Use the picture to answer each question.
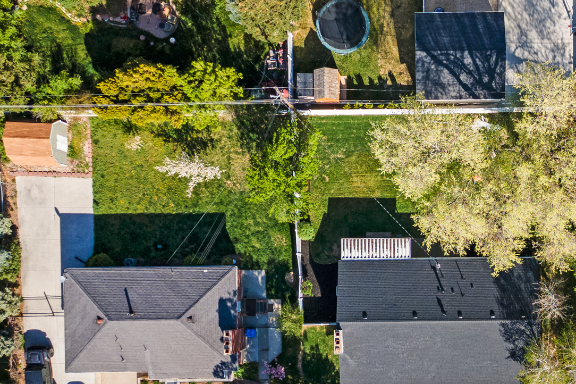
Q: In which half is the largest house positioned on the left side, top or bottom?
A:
bottom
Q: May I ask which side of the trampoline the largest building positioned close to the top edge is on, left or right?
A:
right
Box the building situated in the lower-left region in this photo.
[56,265,248,382]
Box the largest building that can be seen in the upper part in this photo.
[417,12,506,102]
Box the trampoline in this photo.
[315,0,370,53]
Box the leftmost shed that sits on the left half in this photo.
[3,120,69,166]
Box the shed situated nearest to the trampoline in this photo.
[315,68,340,105]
